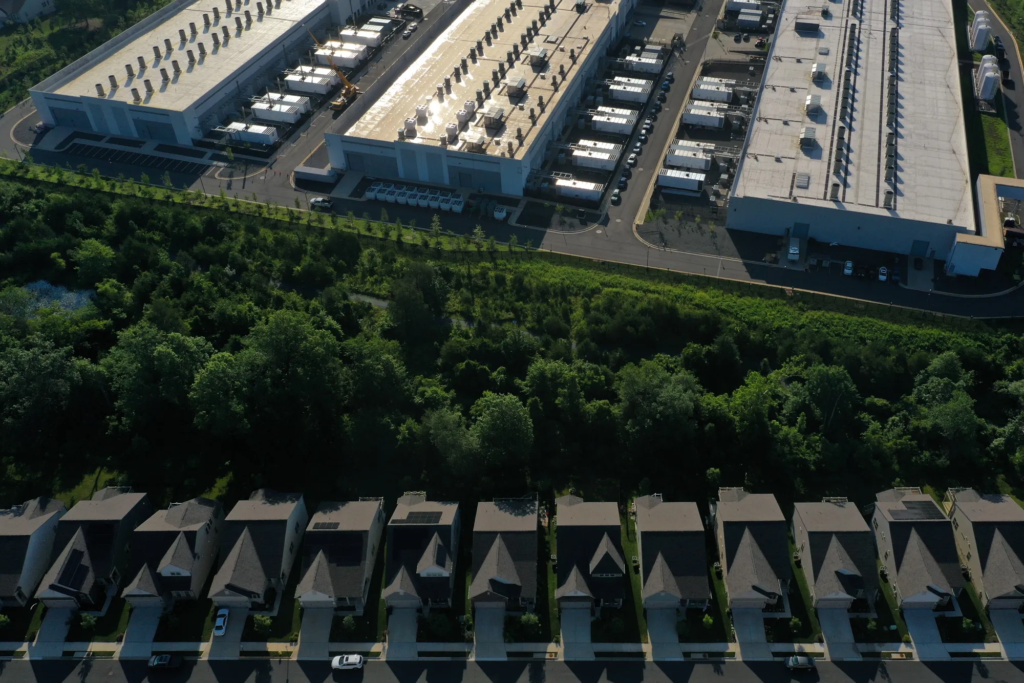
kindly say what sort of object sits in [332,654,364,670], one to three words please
car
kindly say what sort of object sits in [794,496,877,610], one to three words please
house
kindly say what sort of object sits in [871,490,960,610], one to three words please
house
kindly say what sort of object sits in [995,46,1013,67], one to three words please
vehicle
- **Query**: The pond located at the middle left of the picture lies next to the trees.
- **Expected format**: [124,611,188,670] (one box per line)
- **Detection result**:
[17,280,95,313]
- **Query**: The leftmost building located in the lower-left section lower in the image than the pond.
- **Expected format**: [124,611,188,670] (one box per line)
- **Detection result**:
[0,488,77,612]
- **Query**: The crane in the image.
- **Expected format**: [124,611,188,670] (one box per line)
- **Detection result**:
[303,24,363,109]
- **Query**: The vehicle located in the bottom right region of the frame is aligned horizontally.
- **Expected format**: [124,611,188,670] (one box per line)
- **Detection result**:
[785,656,817,671]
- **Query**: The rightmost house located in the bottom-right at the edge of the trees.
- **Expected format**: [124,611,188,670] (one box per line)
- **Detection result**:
[937,489,1024,610]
